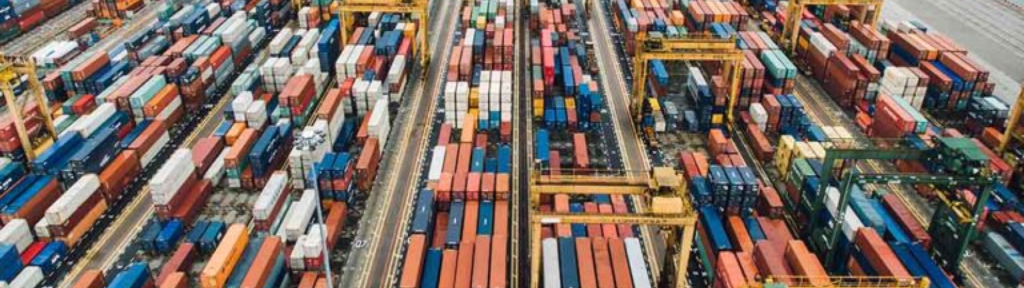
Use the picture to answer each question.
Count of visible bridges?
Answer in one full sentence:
The count of bridges is 0.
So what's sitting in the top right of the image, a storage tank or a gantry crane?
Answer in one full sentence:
Visible in the top right of the image is a gantry crane.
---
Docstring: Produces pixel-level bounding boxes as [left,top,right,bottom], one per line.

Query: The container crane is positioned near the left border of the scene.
[0,53,60,150]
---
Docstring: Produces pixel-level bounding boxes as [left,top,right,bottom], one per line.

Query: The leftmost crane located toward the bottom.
[529,166,694,288]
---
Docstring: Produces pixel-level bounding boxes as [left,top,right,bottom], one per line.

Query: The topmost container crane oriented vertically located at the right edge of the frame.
[1002,95,1024,193]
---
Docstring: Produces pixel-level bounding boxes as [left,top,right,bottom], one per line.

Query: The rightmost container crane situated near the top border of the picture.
[780,0,886,63]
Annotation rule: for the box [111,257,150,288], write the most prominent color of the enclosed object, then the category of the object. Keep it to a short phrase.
blue shipping container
